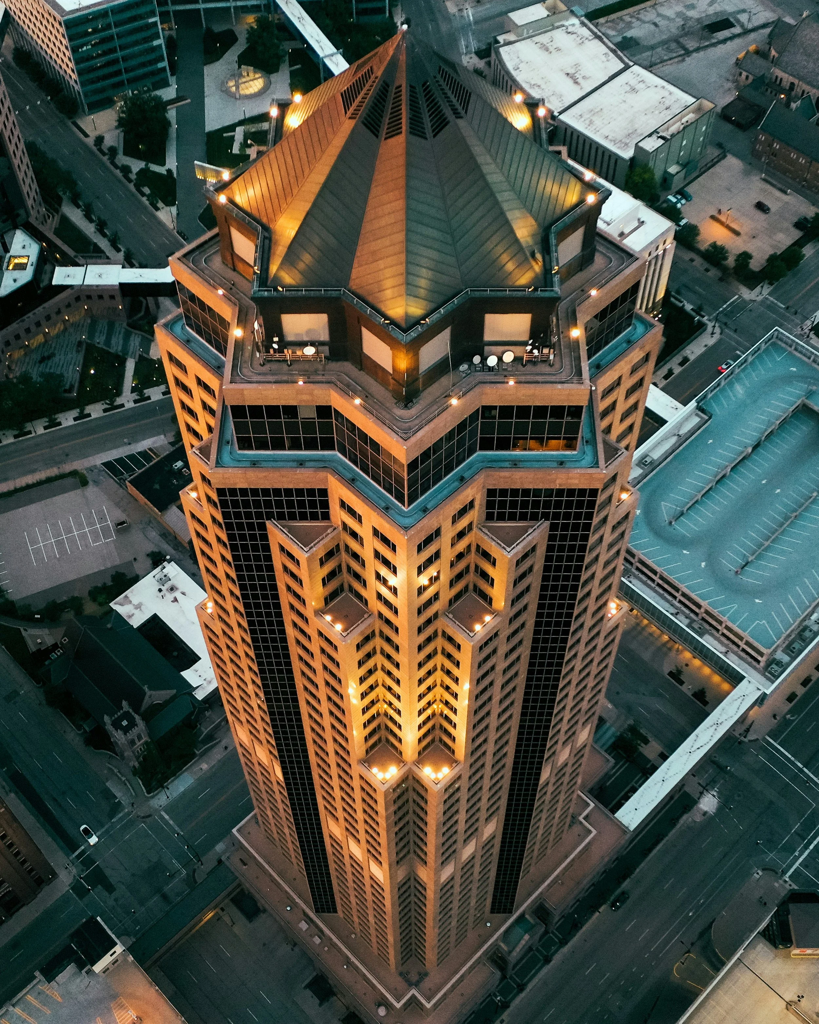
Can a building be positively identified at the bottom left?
Yes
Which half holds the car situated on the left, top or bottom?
bottom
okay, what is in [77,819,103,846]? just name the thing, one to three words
car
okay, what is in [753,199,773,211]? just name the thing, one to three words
vehicle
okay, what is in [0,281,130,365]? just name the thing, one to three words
building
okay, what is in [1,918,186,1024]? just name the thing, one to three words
building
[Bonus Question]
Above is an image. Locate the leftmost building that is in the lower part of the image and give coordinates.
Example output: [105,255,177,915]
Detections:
[0,803,55,922]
